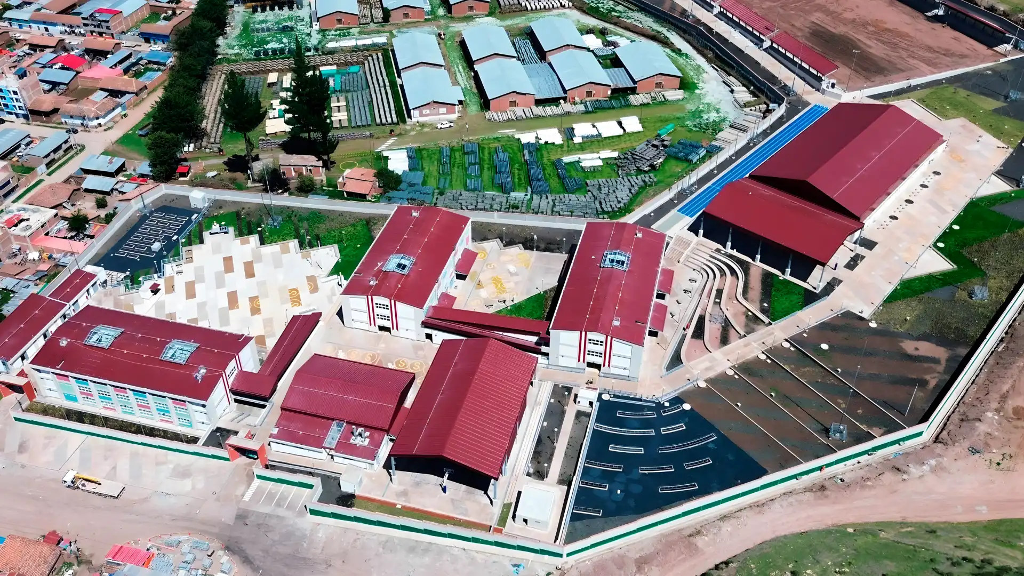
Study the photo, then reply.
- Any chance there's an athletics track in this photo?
Yes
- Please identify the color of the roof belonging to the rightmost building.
red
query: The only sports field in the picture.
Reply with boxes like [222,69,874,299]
[762,0,1008,94]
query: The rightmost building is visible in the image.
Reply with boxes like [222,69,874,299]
[753,103,944,222]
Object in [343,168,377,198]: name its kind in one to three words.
house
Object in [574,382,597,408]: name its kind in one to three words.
shed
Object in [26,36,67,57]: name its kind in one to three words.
house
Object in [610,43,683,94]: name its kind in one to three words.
building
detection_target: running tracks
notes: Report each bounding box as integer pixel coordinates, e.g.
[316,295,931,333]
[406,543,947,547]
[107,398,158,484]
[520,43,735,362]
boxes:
[677,107,829,218]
